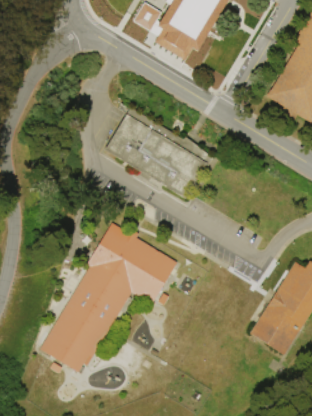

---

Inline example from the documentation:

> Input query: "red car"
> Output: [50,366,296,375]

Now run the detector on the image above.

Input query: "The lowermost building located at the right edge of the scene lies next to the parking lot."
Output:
[250,262,312,355]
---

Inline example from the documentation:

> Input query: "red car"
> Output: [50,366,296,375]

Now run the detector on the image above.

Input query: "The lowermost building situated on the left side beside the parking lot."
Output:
[39,222,176,372]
